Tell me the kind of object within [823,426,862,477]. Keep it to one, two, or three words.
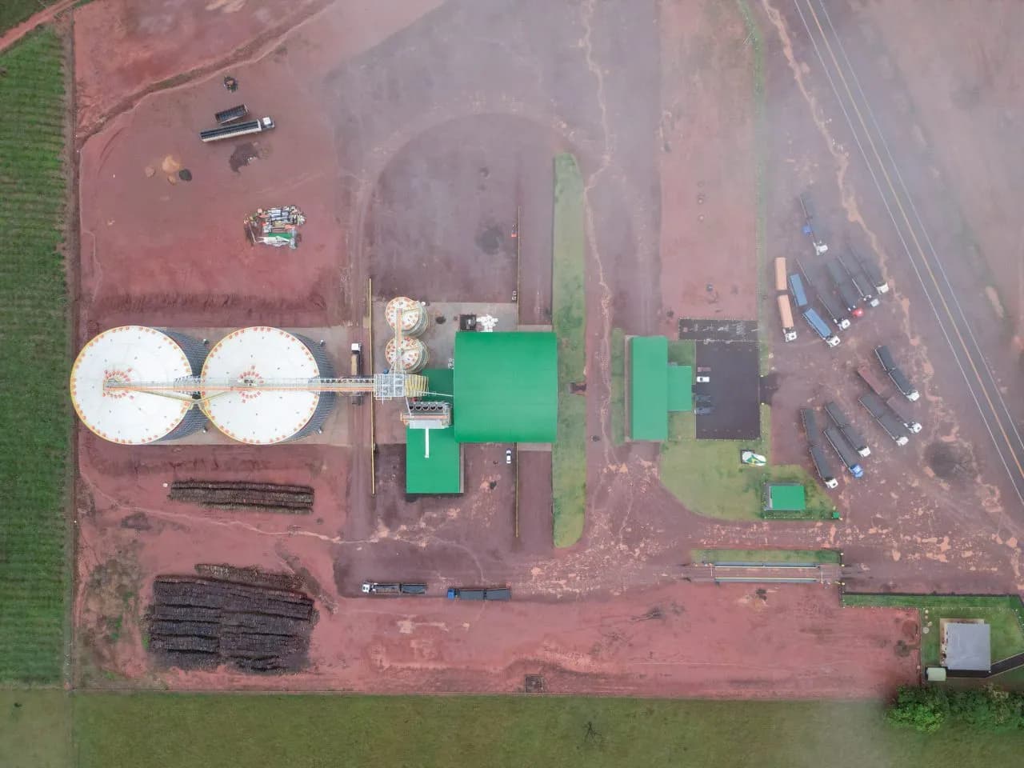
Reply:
truck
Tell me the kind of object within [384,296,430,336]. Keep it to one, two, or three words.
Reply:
silo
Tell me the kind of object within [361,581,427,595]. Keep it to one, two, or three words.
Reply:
vehicle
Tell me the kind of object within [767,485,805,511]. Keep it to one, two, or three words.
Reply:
building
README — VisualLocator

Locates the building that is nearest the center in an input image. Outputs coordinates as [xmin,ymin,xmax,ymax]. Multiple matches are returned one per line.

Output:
[454,332,558,443]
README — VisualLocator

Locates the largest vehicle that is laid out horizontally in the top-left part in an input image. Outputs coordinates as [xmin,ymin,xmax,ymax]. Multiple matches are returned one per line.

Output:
[201,117,277,144]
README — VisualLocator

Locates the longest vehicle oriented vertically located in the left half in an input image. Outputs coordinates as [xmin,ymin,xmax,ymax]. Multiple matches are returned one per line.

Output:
[350,342,363,376]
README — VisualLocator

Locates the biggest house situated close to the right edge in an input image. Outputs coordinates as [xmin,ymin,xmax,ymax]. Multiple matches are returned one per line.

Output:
[940,618,990,671]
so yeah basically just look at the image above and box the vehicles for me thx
[795,257,851,331]
[772,257,796,342]
[837,252,880,310]
[855,366,922,435]
[201,117,277,144]
[505,448,512,463]
[874,345,919,403]
[447,586,511,600]
[846,243,888,295]
[823,426,862,477]
[695,406,711,414]
[824,401,870,458]
[799,408,838,490]
[824,261,864,320]
[695,376,709,383]
[786,273,839,348]
[350,342,363,376]
[361,581,427,595]
[858,393,909,447]
[695,366,709,372]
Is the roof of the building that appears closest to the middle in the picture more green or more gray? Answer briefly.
green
